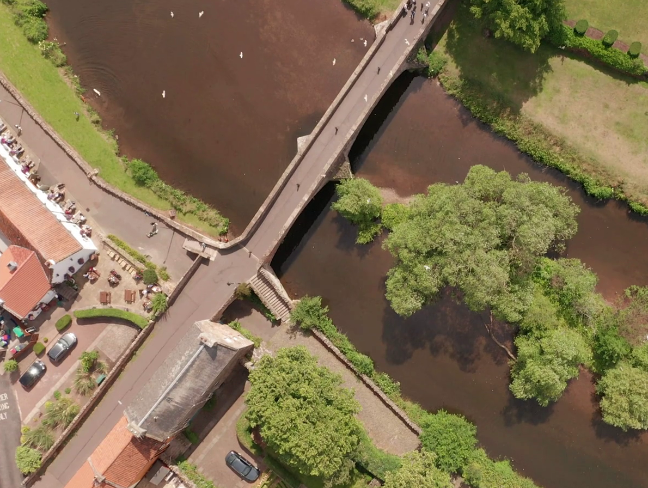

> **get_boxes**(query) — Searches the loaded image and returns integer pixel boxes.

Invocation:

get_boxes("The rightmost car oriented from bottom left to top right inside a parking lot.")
[46,329,81,365]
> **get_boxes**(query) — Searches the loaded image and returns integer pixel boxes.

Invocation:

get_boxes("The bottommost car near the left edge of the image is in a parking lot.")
[16,360,50,392]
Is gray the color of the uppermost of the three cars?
Yes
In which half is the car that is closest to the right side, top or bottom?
bottom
